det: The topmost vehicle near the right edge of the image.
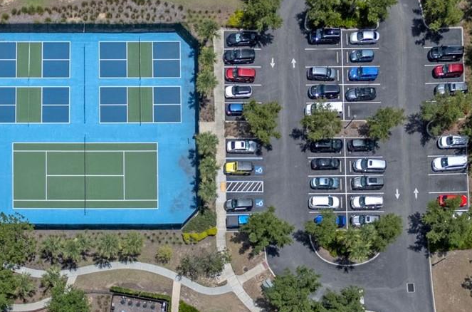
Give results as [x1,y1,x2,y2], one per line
[427,45,463,61]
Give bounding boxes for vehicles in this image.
[436,80,466,96]
[352,175,383,191]
[348,30,377,46]
[347,48,374,64]
[309,28,340,43]
[307,65,336,81]
[226,139,255,154]
[437,135,468,150]
[224,103,250,118]
[224,197,253,212]
[225,84,252,99]
[347,138,376,153]
[311,157,340,172]
[433,155,470,172]
[427,45,463,61]
[352,195,382,209]
[348,65,380,81]
[309,195,340,209]
[312,137,342,153]
[225,67,255,84]
[222,213,256,227]
[225,160,253,175]
[308,84,338,99]
[309,176,338,191]
[350,213,378,227]
[345,86,374,101]
[227,31,256,47]
[224,48,253,65]
[432,62,462,79]
[354,157,384,173]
